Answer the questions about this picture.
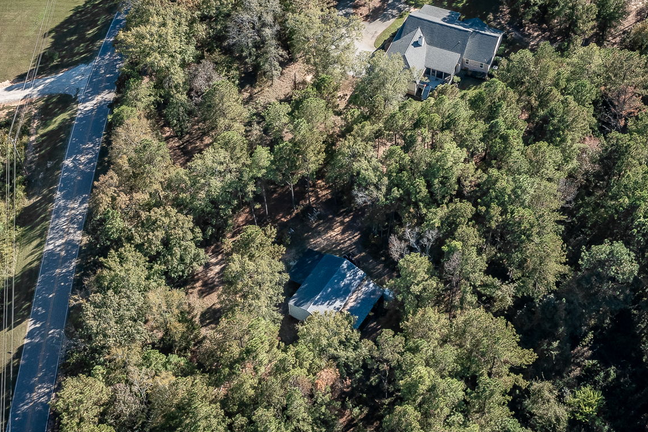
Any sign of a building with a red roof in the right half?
No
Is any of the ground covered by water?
No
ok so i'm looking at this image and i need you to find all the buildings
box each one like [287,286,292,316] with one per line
[282,243,385,336]
[378,3,505,90]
